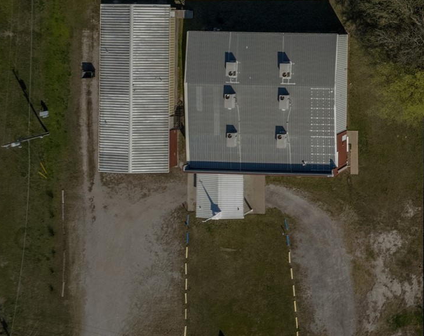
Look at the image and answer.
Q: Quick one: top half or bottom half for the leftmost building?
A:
top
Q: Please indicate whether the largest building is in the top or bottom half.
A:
top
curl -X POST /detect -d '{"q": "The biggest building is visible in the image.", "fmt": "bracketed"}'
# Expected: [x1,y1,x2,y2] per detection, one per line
[180,30,348,178]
